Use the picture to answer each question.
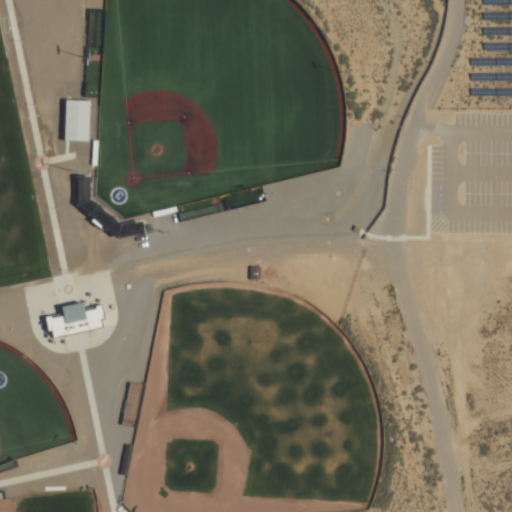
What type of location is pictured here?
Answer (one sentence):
The picture captures a sports ground.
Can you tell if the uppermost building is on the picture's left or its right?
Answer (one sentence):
The uppermost building appears in the left half of the scene.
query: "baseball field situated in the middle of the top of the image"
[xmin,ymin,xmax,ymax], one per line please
[97,0,346,218]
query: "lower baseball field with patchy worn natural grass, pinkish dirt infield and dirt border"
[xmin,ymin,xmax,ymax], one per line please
[120,282,383,512]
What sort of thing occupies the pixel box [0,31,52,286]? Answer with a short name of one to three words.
sports field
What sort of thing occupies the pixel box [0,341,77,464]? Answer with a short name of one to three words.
baseball field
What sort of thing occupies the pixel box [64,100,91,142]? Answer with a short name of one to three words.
building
